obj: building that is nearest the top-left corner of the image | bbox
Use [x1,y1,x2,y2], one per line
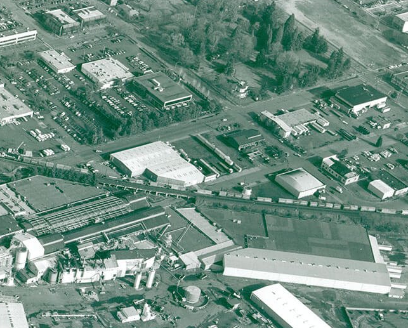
[0,26,37,46]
